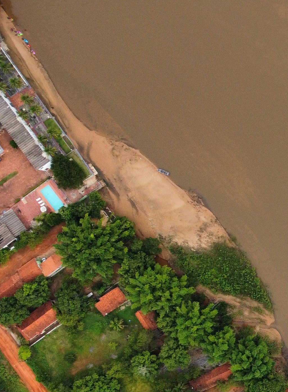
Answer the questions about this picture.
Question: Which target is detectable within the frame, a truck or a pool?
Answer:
pool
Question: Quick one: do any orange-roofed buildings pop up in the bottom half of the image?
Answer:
Yes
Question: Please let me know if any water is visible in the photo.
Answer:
Yes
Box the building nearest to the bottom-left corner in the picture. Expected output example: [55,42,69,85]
[17,301,61,346]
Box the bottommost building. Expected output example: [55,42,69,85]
[192,363,235,392]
